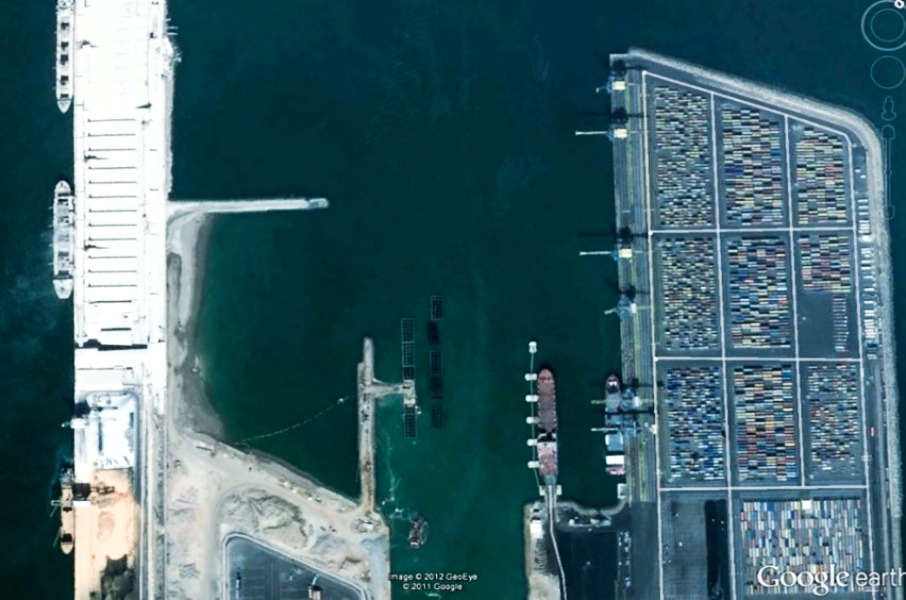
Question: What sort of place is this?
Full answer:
This looks like a port.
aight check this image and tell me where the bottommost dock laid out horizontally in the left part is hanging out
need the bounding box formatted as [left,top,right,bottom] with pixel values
[167,197,328,215]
